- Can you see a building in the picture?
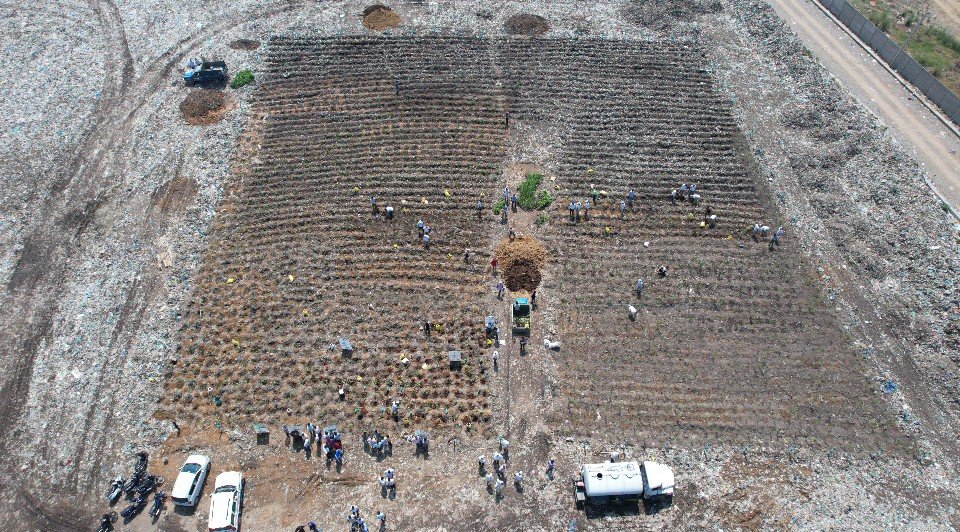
No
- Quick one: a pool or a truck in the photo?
truck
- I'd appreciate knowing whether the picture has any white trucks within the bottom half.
Yes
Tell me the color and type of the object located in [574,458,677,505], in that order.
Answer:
white truck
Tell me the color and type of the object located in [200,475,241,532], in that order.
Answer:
white car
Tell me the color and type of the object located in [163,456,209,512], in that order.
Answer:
white car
